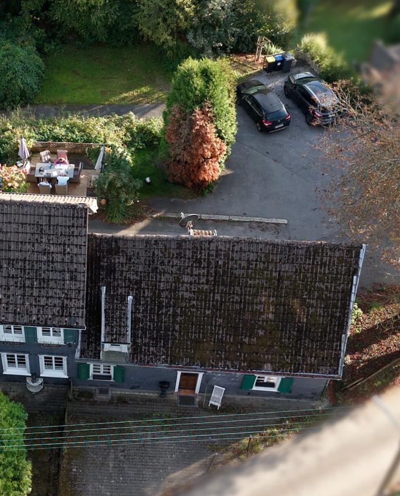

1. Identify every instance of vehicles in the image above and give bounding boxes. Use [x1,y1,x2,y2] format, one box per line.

[286,71,337,117]
[240,80,289,127]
